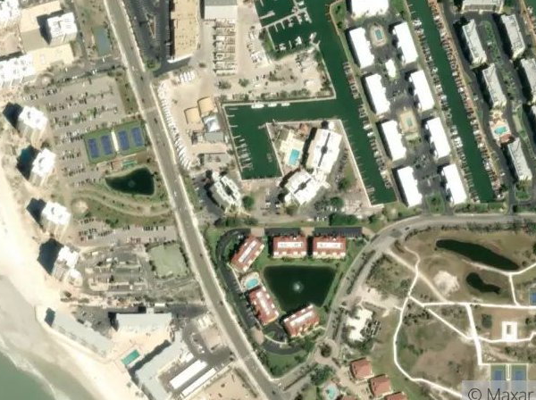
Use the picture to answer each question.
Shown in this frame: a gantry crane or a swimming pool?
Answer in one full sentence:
It is a swimming pool that can be seen here.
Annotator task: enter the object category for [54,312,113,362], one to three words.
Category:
building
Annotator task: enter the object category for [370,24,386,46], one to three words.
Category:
swimming pool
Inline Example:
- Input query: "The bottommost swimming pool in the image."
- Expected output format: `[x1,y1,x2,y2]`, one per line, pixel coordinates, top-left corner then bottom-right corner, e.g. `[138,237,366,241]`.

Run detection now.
[319,382,341,400]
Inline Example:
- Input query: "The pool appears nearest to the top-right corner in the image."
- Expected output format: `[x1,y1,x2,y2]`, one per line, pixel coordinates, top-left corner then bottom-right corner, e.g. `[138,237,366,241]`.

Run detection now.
[491,118,510,139]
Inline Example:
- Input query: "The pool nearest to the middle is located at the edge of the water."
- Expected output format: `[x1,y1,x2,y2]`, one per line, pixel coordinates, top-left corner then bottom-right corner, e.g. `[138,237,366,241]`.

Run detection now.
[280,133,305,166]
